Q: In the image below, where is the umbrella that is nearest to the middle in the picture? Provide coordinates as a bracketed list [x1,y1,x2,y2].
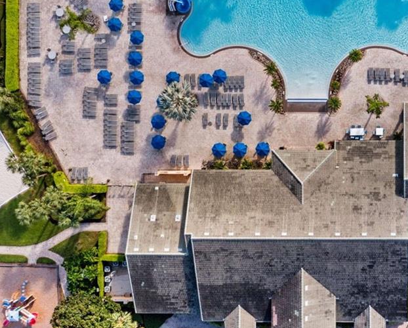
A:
[212,142,227,157]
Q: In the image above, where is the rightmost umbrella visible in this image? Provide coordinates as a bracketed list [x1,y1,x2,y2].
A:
[256,141,271,157]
